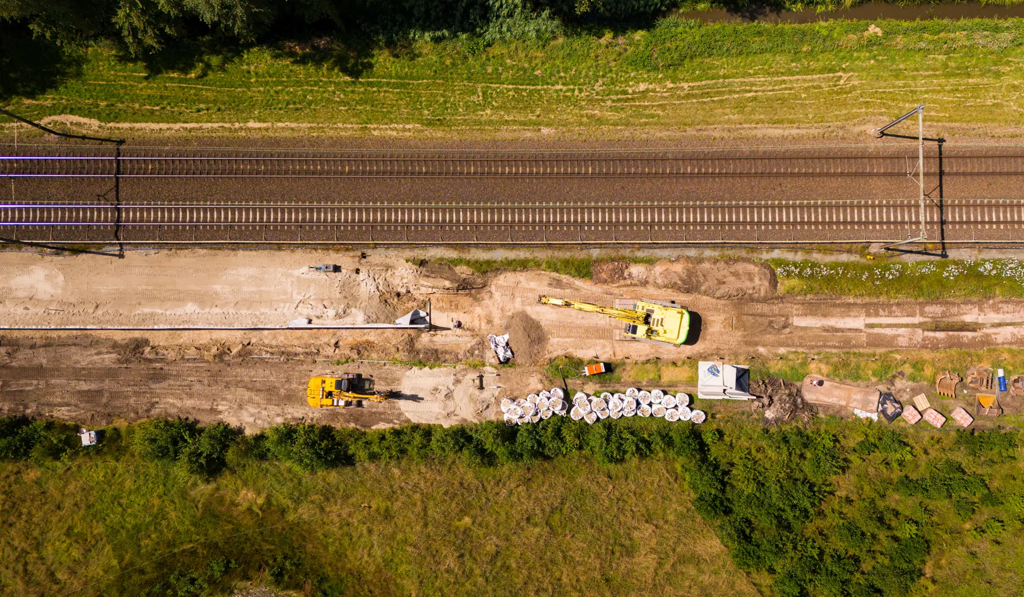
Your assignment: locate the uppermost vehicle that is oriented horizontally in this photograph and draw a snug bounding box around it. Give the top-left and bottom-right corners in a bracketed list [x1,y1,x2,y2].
[535,294,693,349]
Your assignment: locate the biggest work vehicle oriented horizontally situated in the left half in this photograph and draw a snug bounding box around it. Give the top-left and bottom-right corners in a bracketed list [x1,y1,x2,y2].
[306,375,395,409]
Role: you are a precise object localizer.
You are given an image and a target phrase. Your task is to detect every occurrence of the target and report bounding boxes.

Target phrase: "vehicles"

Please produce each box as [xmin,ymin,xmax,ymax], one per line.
[535,294,693,349]
[306,375,395,409]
